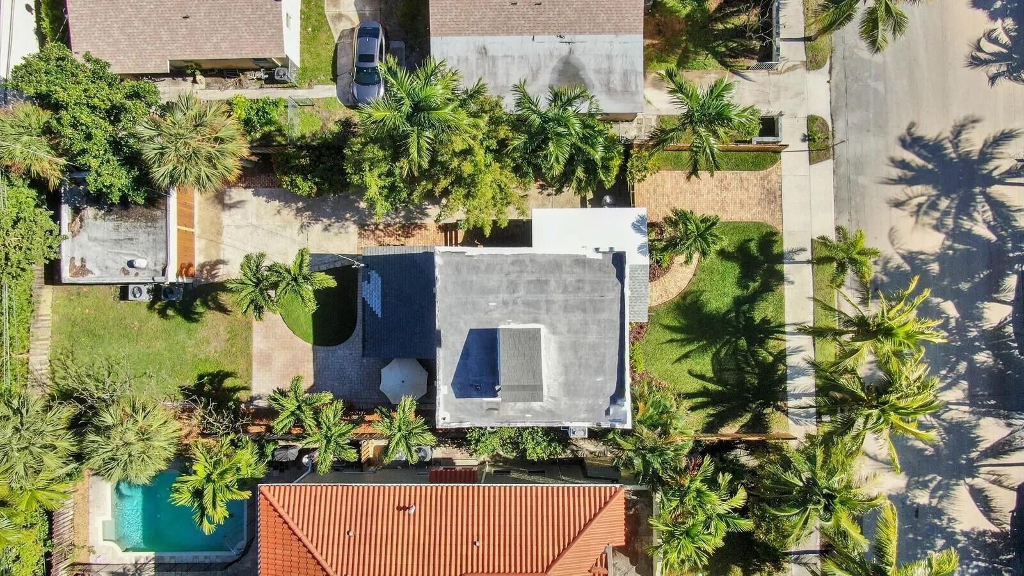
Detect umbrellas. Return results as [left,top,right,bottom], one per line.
[276,439,304,465]
[382,358,427,400]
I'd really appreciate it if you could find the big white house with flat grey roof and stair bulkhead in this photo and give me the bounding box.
[361,207,648,438]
